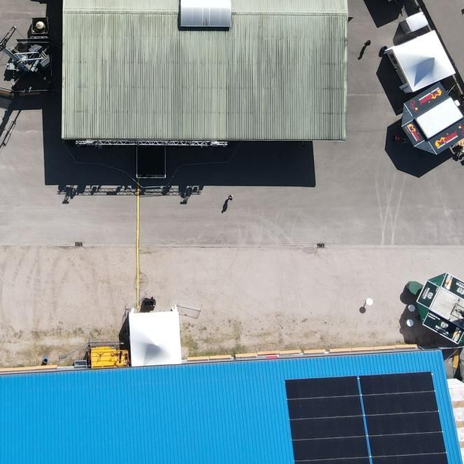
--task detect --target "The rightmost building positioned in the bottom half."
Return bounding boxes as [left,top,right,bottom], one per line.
[413,272,464,341]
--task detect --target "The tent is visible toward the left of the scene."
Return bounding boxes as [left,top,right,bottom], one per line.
[130,307,181,366]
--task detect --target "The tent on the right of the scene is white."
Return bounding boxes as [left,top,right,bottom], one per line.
[385,31,455,93]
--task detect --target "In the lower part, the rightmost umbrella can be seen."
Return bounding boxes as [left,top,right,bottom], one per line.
[405,279,421,296]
